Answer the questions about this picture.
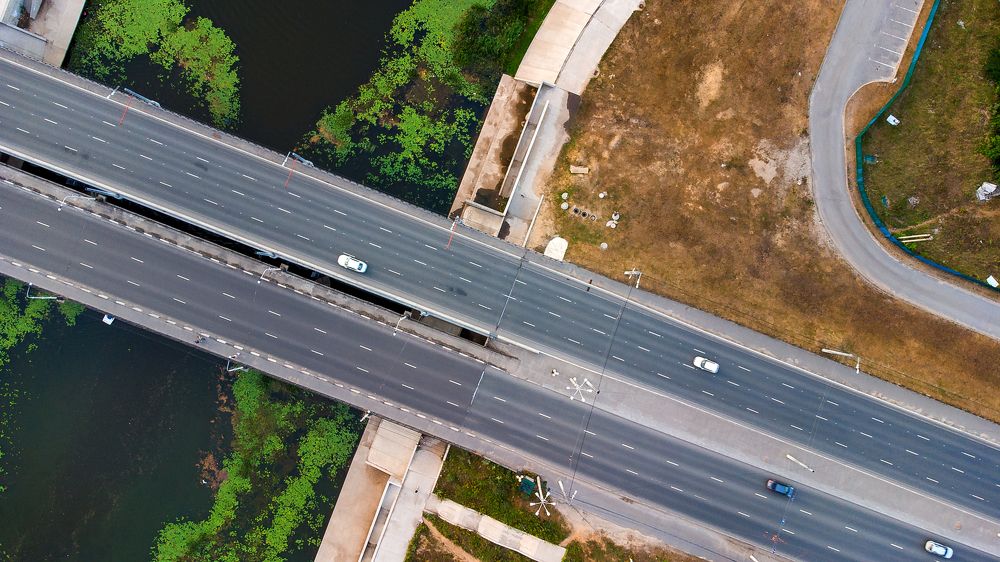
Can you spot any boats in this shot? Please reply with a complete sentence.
No, there's no boat here.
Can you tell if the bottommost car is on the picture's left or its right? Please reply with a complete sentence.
You can find the bottommost car on the right side of the picture.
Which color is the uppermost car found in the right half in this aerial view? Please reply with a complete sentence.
The color of the uppermost car found in the right half is white.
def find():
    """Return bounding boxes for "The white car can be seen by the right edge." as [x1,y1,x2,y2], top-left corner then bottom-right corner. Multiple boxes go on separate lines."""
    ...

[924,540,957,561]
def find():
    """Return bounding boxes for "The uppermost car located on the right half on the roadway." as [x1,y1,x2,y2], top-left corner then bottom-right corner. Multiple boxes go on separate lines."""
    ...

[692,356,722,375]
